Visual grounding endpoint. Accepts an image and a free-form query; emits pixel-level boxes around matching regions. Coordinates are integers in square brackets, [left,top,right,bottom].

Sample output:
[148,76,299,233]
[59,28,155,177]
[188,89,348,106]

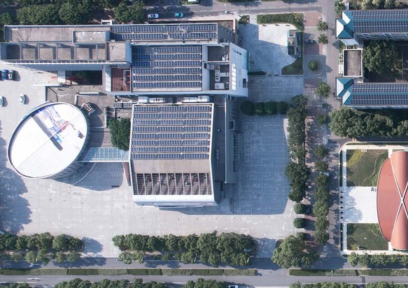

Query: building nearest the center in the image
[114,95,236,205]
